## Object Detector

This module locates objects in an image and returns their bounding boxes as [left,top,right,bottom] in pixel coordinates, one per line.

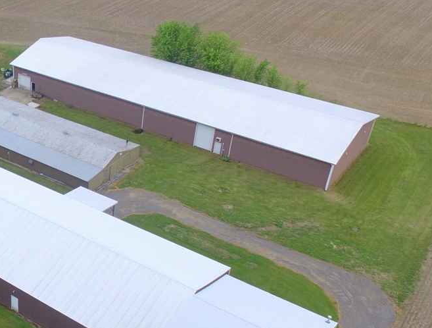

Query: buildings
[0,167,338,328]
[0,96,141,189]
[8,36,379,192]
